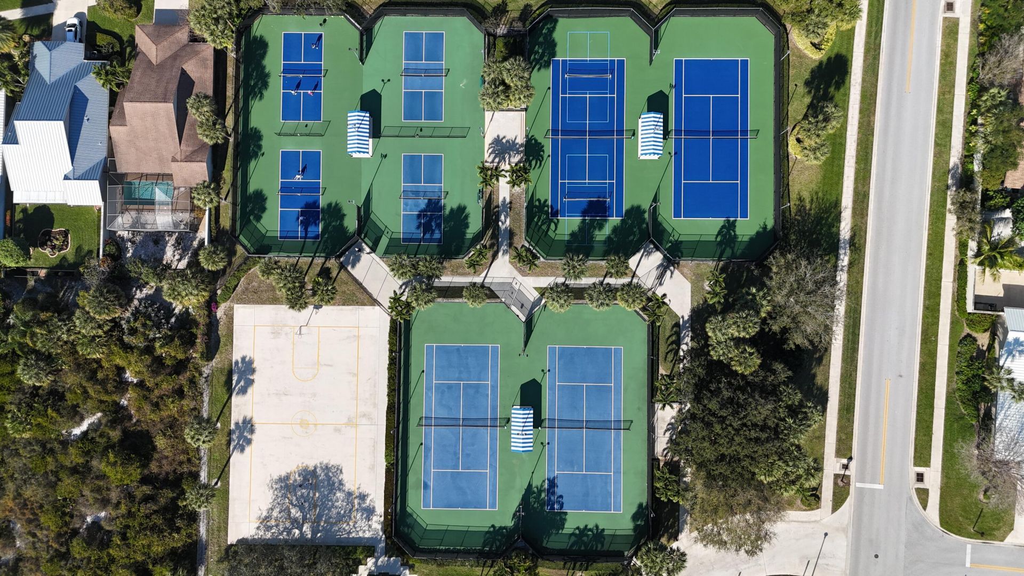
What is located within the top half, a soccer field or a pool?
pool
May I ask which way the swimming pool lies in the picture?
from left to right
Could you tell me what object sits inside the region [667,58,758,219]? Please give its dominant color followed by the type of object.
blue tennis court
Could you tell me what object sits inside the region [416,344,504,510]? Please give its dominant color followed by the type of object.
blue tennis court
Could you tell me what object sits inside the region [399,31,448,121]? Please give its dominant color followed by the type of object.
blue sports court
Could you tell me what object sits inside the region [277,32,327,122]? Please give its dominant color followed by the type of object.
blue sports court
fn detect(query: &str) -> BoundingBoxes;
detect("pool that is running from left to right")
[123,181,176,207]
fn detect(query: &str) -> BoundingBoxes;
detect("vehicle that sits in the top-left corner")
[65,17,84,43]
